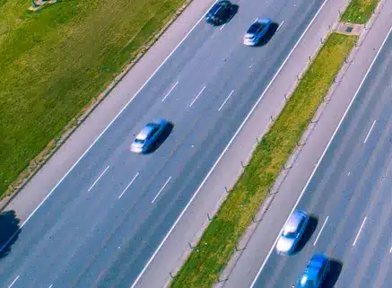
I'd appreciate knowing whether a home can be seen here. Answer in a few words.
No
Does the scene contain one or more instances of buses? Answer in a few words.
No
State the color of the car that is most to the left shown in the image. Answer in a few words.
blue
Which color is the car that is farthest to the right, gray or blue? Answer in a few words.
blue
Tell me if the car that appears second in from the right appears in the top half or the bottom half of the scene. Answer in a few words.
bottom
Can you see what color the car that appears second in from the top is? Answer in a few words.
blue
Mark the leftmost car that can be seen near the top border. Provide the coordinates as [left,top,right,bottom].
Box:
[205,2,235,26]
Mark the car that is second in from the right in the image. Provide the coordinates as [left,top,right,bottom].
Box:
[273,207,312,259]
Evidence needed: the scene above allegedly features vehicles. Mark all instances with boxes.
[205,2,235,26]
[243,20,274,48]
[128,120,169,158]
[297,250,333,288]
[273,207,312,259]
